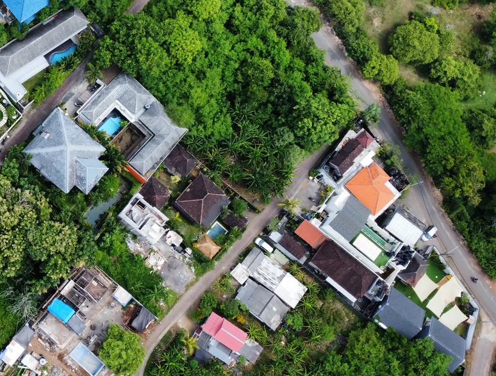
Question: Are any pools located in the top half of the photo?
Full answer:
Yes, you'll find a pool in the top half of the photo.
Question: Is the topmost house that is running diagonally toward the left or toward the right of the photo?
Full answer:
The topmost house that is running diagonally appears in the left half of the scene.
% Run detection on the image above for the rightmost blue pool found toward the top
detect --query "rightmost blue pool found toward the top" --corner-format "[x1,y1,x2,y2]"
[96,112,123,137]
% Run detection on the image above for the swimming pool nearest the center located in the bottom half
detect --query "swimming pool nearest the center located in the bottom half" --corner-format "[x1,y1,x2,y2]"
[205,221,228,241]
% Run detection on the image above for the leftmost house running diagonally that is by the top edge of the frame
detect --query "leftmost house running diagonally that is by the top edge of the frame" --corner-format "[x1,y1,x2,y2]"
[0,7,90,100]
